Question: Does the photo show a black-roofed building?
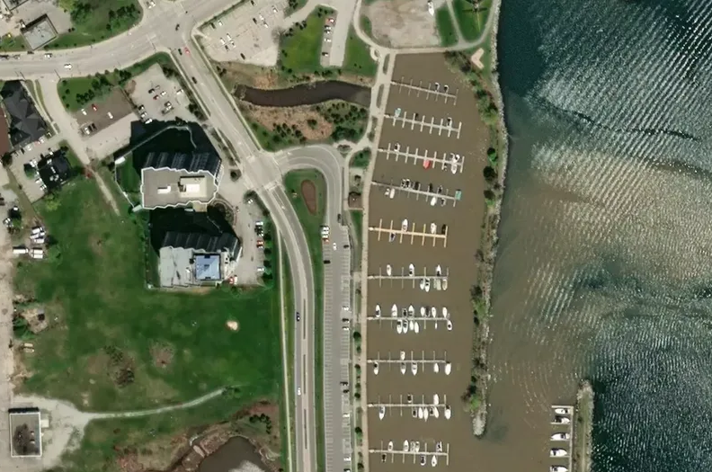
Yes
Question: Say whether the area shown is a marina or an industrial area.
marina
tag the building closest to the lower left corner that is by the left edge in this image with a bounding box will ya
[9,411,50,456]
